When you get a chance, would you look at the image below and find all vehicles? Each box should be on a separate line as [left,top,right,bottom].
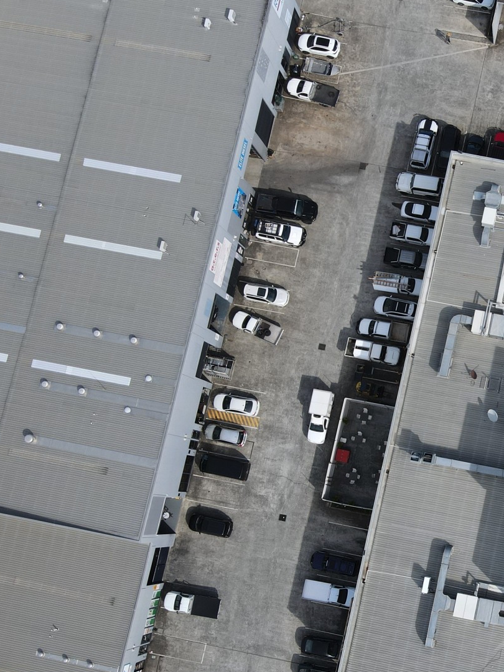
[396,171,444,200]
[298,662,338,672]
[382,246,429,271]
[212,391,262,417]
[301,635,345,663]
[252,191,321,220]
[404,201,439,225]
[310,551,358,578]
[368,270,424,300]
[243,282,292,307]
[490,132,504,161]
[408,119,438,171]
[342,337,402,365]
[200,452,253,479]
[204,423,251,448]
[189,511,235,536]
[373,295,419,321]
[253,217,309,247]
[231,312,285,347]
[298,30,343,59]
[302,387,336,445]
[432,125,460,177]
[387,222,434,248]
[461,134,483,156]
[296,579,357,608]
[453,0,497,13]
[163,592,222,618]
[287,78,341,109]
[357,316,414,344]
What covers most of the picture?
buildings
